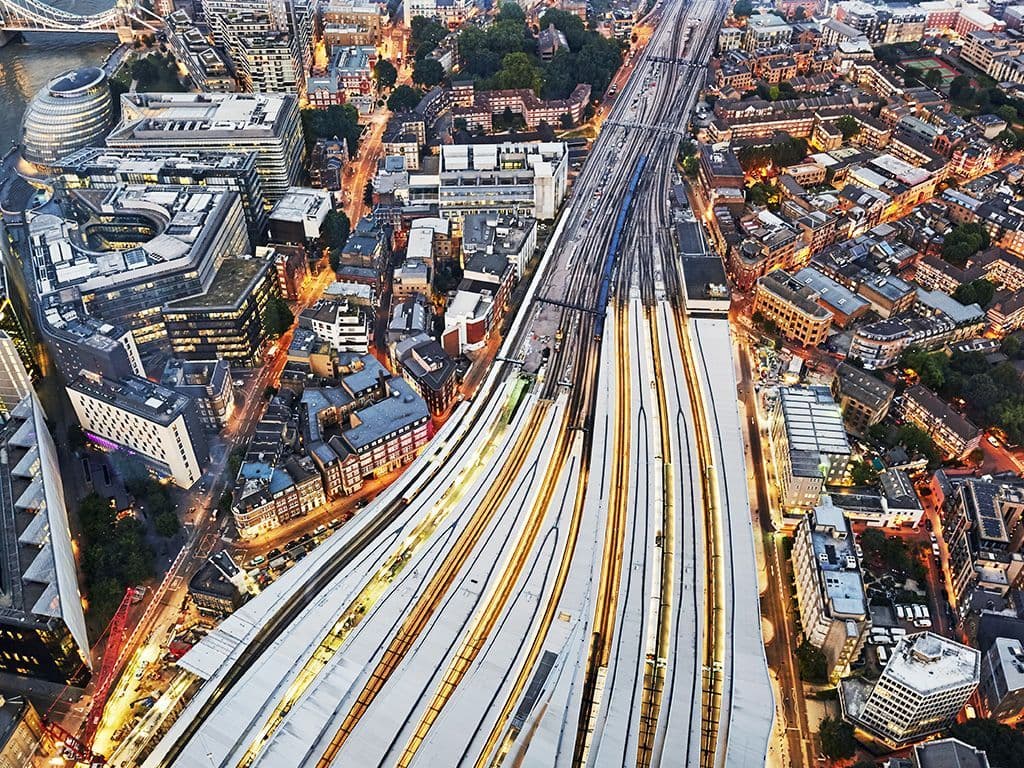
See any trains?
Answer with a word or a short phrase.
Yes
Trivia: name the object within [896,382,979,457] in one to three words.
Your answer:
building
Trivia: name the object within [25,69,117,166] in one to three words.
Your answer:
building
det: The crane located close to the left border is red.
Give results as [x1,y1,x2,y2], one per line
[37,583,136,768]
